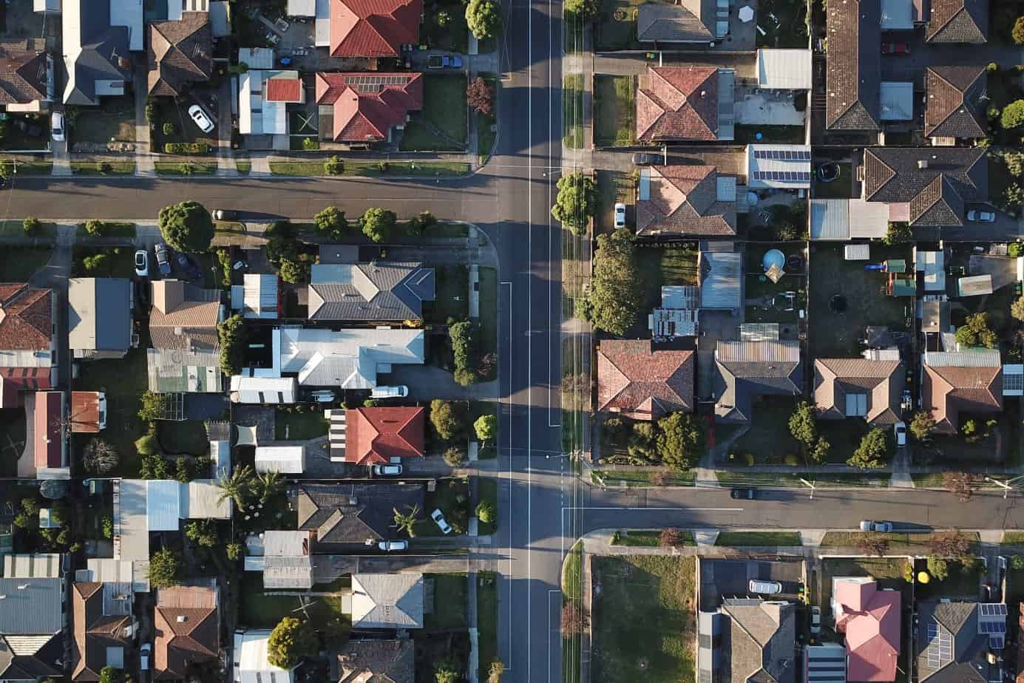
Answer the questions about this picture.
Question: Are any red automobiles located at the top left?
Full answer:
No, no red automobile is visible at the top left.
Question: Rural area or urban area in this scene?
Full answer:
From above, the setting appears urban.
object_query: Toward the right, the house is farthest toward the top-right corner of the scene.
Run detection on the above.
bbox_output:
[913,0,988,45]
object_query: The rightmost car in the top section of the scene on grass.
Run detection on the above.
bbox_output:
[613,202,628,230]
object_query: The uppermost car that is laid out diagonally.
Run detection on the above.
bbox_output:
[187,103,215,134]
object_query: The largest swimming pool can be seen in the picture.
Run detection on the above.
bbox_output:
[762,248,785,269]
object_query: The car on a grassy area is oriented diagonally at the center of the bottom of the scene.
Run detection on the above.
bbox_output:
[430,507,453,535]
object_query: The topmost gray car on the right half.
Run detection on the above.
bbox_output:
[631,151,664,166]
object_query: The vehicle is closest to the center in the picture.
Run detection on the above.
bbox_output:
[372,384,406,400]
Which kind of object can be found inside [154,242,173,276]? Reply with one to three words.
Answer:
vehicle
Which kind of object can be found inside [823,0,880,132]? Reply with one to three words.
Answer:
house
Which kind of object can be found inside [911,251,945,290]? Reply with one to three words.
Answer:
shed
